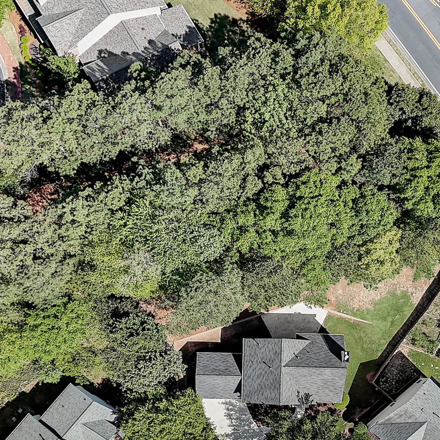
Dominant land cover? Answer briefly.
trees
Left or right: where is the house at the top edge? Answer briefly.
left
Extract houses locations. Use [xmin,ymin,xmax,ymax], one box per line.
[368,377,440,440]
[24,0,204,87]
[196,334,353,405]
[5,383,123,440]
